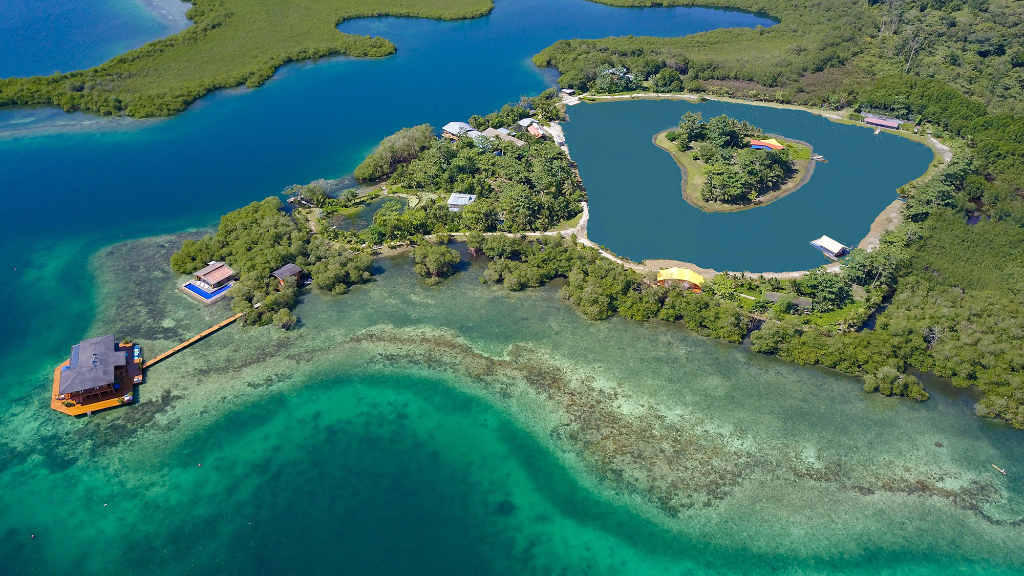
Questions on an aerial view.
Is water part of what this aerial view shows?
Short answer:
Yes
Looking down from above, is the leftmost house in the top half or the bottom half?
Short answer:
bottom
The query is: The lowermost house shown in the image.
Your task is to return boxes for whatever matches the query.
[51,333,143,417]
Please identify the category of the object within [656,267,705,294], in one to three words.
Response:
house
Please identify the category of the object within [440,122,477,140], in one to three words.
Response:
house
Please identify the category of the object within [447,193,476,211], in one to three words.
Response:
building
